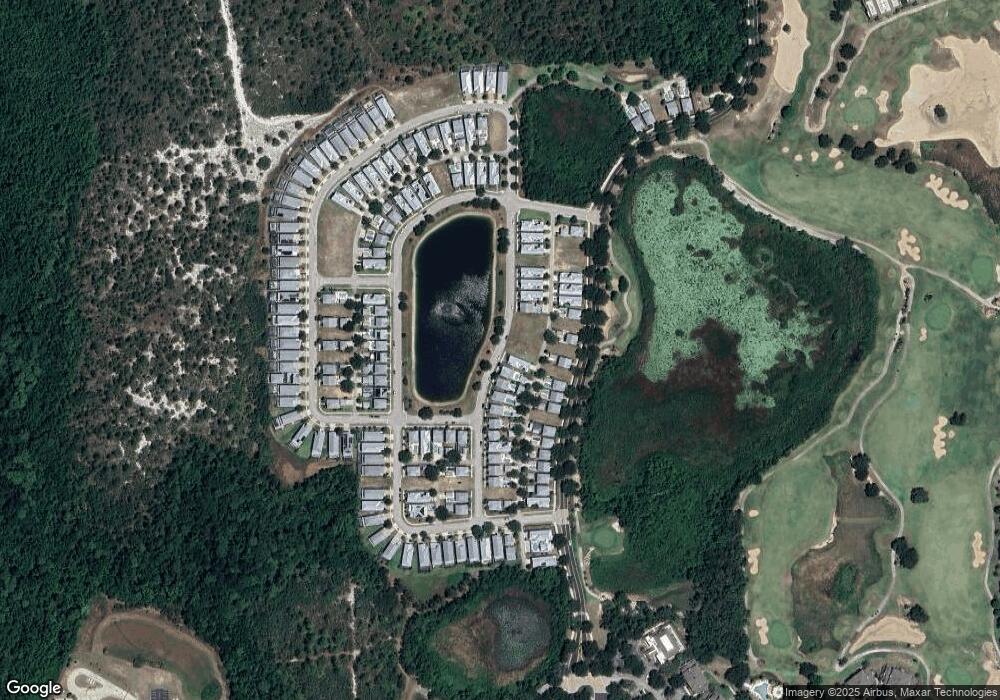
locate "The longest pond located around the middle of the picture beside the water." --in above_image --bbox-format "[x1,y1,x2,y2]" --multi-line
[415,215,494,402]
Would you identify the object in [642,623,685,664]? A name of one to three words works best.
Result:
building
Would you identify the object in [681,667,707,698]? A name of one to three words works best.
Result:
building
